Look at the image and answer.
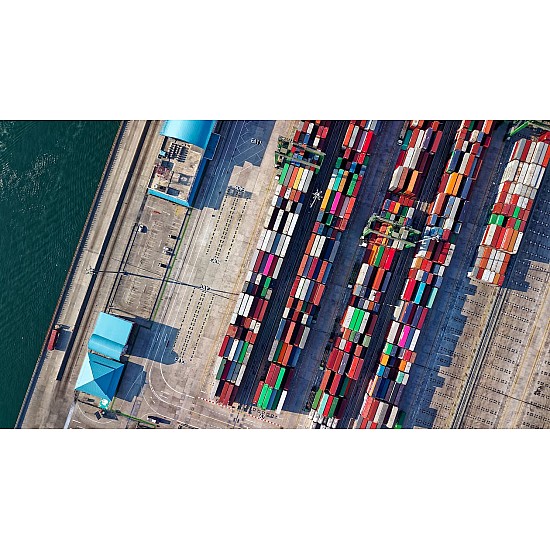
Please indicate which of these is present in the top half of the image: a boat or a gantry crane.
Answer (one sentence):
Visible in the top half of the image is a gantry crane.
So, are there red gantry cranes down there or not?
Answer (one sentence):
No, the photo shows no red gantry crane.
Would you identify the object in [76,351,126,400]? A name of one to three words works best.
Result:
building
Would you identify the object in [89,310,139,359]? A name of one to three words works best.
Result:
shed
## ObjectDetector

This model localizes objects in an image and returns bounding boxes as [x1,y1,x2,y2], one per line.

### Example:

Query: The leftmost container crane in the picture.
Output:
[272,134,329,182]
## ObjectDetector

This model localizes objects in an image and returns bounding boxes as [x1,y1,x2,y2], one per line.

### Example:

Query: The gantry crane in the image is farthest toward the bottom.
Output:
[359,212,422,254]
